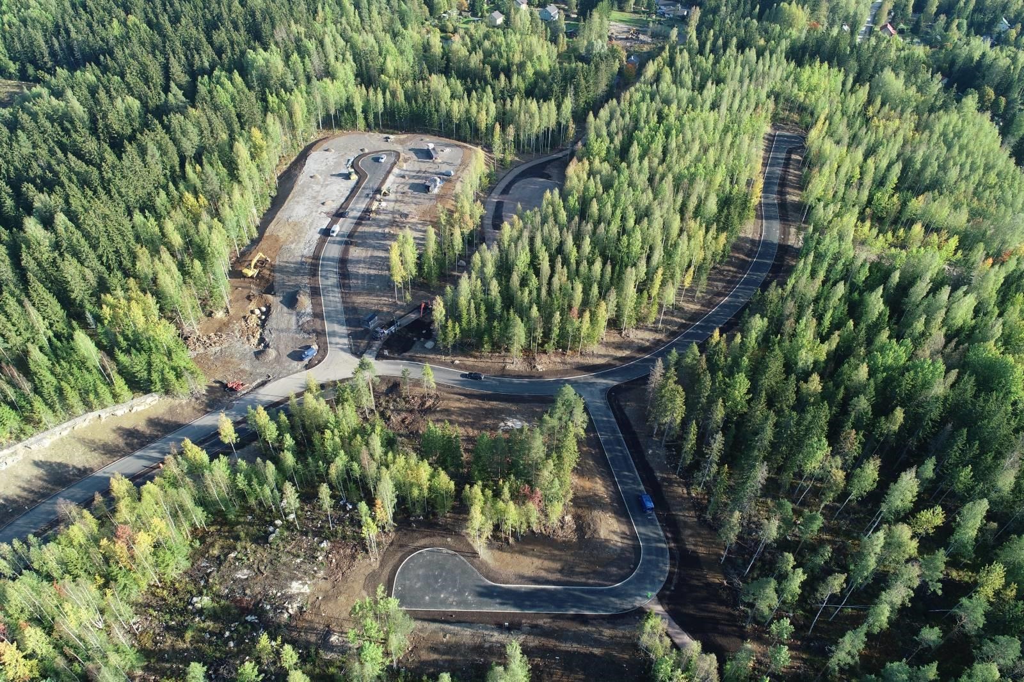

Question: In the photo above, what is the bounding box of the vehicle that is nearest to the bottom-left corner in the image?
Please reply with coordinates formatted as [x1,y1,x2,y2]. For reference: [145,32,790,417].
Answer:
[301,341,318,358]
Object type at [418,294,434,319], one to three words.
work vehicle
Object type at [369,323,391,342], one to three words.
vehicle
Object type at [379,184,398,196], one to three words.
vehicle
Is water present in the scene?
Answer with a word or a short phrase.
No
